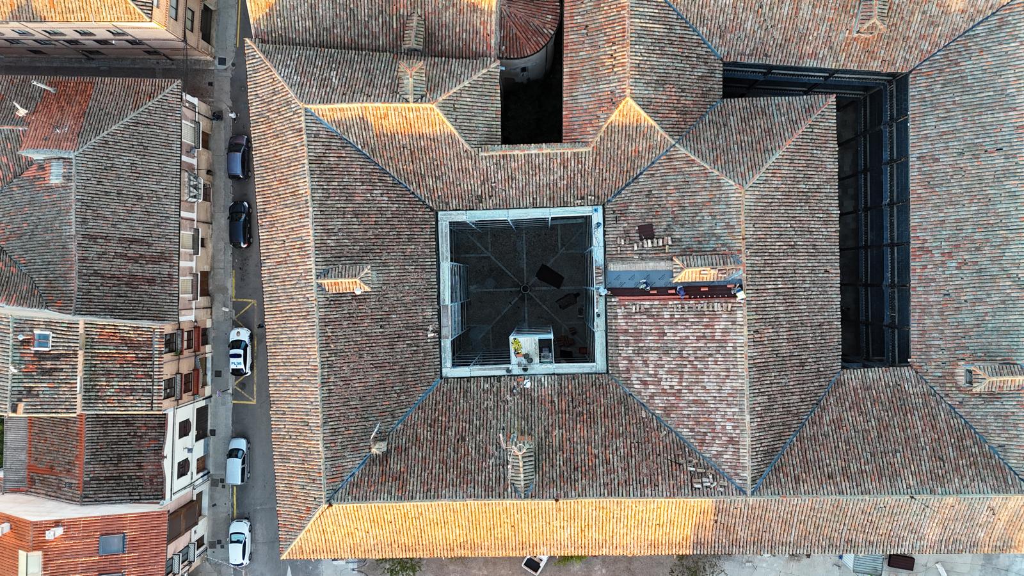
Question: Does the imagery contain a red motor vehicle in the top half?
No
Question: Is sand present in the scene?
No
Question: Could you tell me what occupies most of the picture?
buildings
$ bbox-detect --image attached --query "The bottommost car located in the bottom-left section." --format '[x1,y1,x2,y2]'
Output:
[225,521,252,570]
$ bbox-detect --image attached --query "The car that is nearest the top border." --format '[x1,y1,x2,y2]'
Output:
[224,135,250,181]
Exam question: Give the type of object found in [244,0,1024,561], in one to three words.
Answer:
building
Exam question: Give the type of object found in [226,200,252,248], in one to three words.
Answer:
car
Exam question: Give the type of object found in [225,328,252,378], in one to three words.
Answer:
car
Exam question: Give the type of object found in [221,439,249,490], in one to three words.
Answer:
van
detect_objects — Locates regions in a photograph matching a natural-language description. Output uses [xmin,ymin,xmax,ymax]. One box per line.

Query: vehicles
[226,200,252,248]
[225,328,252,378]
[221,439,249,490]
[224,135,250,181]
[515,557,550,576]
[225,521,252,570]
